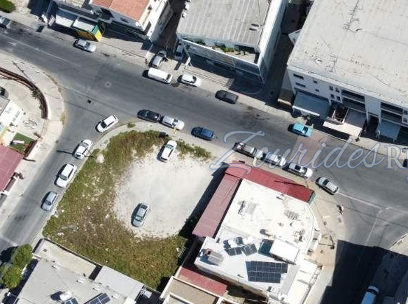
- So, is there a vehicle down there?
Yes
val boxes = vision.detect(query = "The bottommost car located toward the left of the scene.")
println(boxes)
[130,201,149,229]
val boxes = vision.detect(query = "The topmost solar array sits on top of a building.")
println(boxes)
[246,261,288,283]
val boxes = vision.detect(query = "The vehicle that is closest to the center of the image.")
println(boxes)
[190,127,214,141]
